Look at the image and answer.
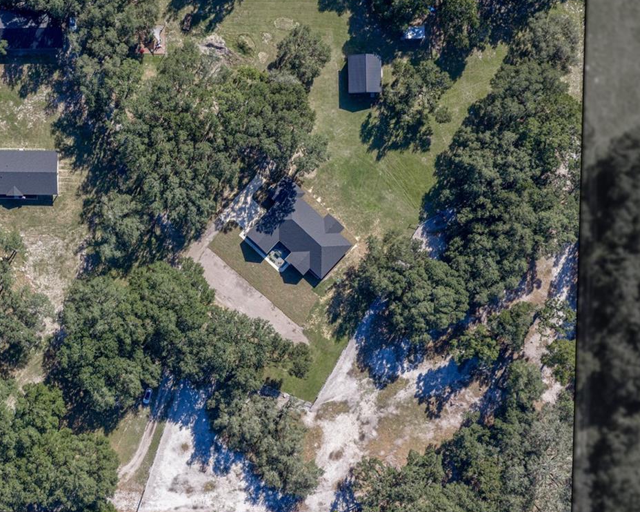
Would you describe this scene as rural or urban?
rural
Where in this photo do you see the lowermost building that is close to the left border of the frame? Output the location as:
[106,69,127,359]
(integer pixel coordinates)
[0,152,59,199]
